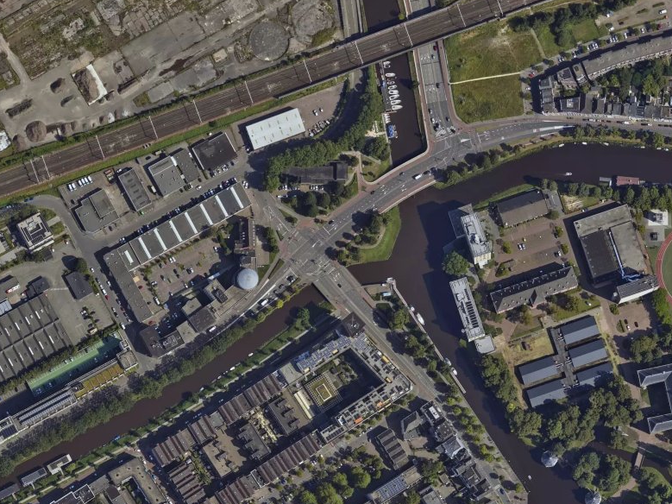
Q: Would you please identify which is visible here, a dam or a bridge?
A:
bridge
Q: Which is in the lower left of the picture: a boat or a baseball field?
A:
boat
